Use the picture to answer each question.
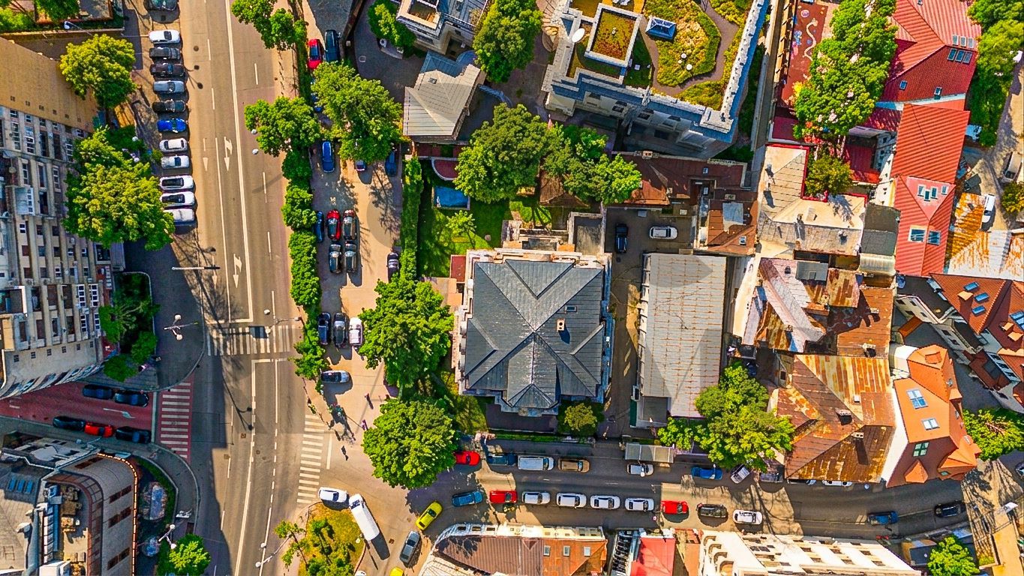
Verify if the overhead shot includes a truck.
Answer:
Yes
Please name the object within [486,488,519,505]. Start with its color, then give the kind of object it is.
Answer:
red car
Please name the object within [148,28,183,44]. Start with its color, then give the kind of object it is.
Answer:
white car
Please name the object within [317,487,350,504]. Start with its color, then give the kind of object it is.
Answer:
white car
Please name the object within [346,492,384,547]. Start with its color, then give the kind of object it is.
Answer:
white truck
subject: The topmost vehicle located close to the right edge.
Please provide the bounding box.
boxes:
[997,150,1024,186]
